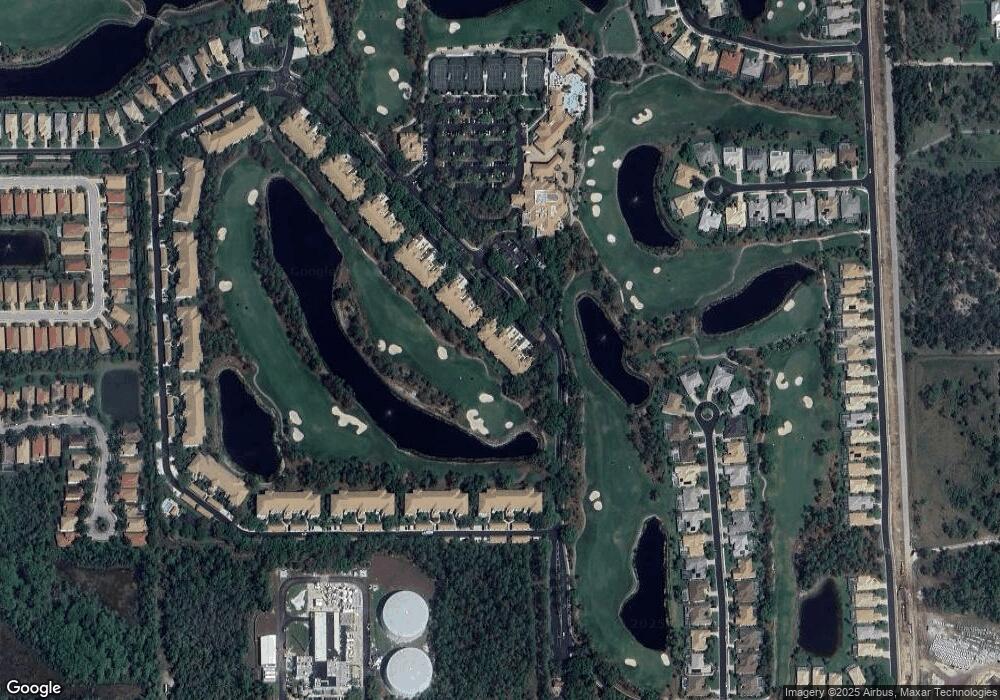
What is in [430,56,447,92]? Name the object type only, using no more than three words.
tennis court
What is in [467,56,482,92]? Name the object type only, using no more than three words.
tennis court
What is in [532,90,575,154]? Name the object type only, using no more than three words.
building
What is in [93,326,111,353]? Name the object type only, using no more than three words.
house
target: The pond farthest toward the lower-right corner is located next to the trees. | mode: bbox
[797,578,842,655]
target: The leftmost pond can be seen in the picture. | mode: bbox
[0,230,48,268]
